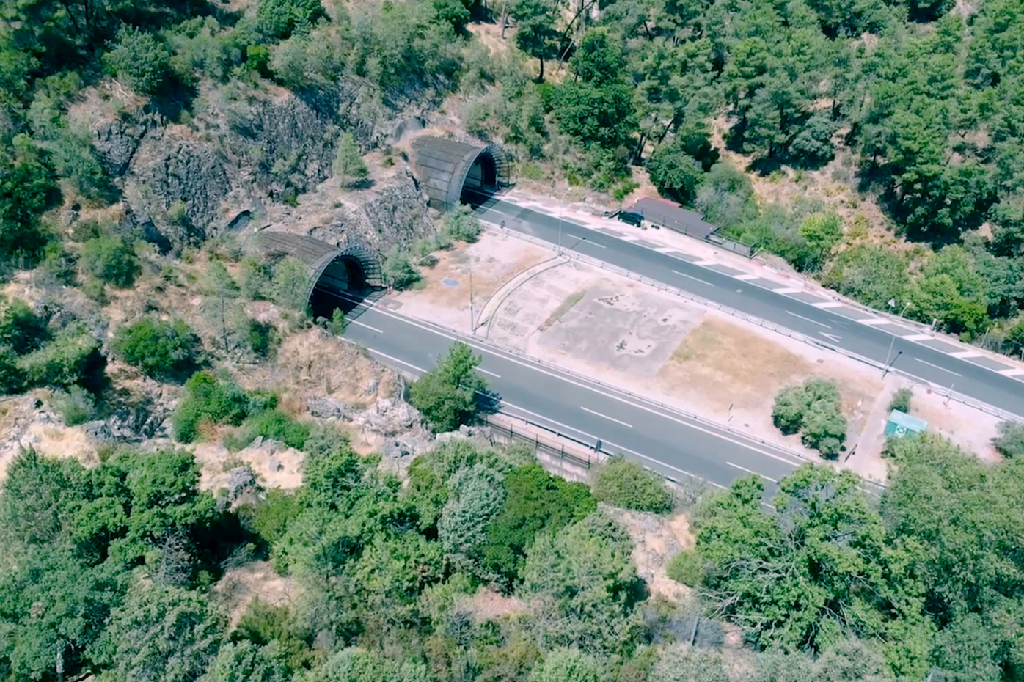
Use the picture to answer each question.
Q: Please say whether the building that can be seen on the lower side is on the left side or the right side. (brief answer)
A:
right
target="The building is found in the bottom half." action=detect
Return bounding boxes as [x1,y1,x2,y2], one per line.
[886,408,934,448]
